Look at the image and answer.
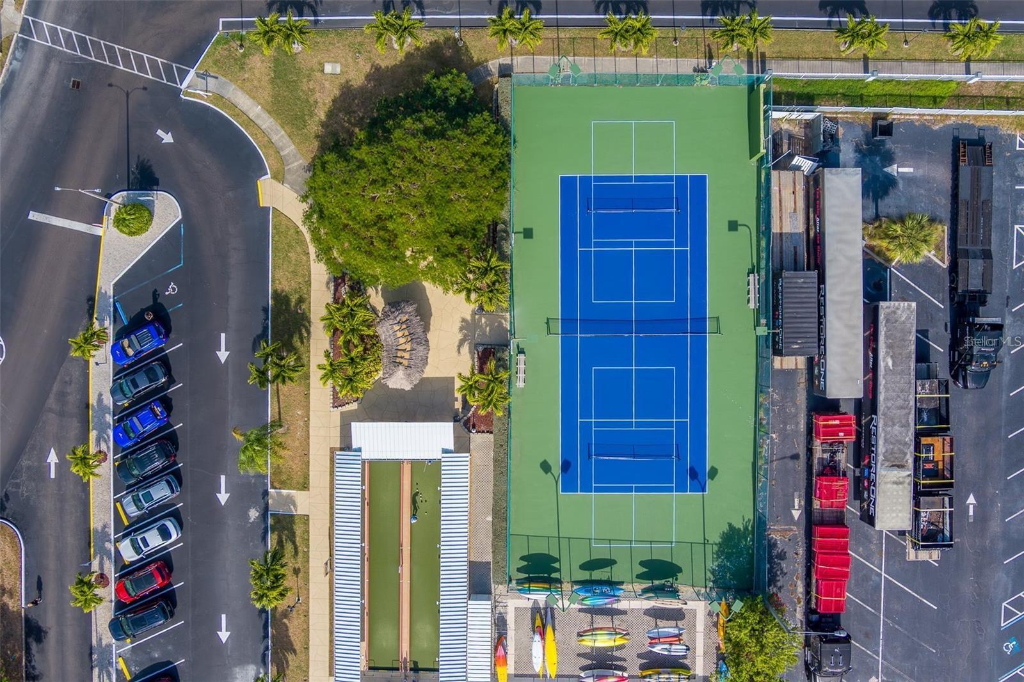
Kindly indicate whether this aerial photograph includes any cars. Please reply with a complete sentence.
Yes, the picture does show a car.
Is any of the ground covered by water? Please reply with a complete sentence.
No, there is no water in the image.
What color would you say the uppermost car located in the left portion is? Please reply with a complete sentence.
The uppermost car located in the left portion is blue.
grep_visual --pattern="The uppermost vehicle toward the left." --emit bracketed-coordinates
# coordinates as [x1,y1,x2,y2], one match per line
[110,320,174,364]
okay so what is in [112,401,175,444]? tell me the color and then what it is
blue car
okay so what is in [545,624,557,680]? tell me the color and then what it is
yellow boat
